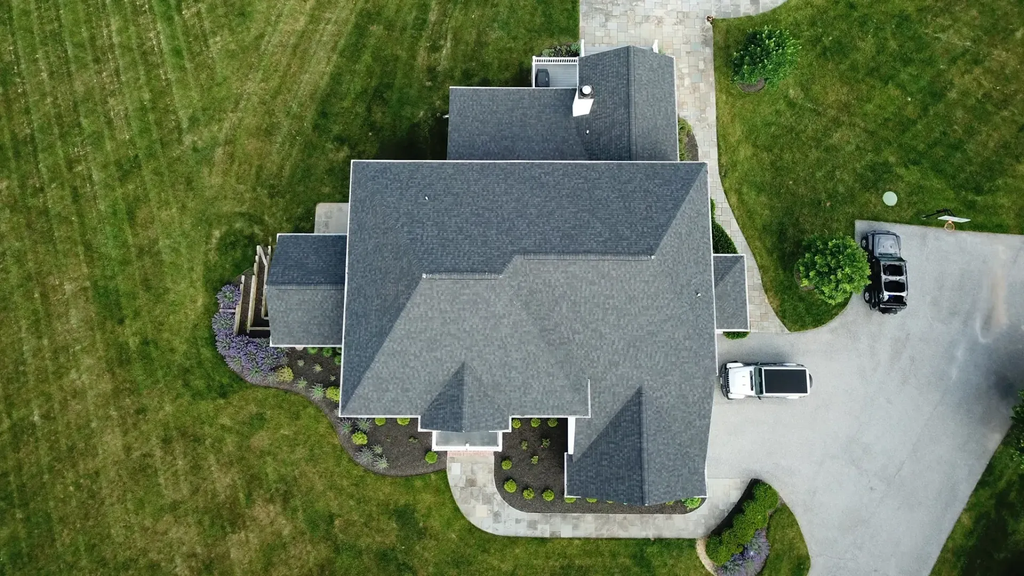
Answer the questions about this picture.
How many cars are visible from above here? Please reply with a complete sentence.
In total, 2 cars can be seen.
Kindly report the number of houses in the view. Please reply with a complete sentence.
In total, 1 house can be seen.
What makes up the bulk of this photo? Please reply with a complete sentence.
The largest share of the image is taken up by grass.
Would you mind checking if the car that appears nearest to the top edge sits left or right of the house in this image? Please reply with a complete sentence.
The car that appears nearest to the top edge appears to the right of the house in this view.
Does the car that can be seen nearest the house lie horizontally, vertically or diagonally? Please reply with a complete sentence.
In this picture, the car that can be seen nearest the house is oriented horizontally.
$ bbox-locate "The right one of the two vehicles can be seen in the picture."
[859,229,910,313]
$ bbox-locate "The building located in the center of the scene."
[266,39,749,506]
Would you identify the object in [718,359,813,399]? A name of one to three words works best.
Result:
car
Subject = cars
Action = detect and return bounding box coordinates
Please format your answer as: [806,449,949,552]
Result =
[859,229,910,313]
[718,359,813,399]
